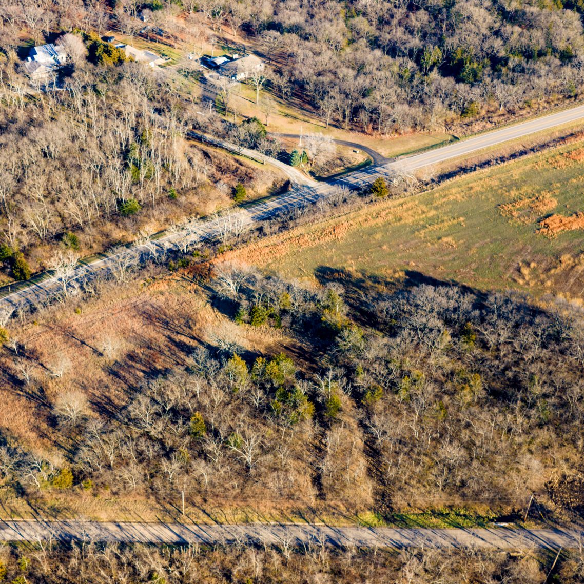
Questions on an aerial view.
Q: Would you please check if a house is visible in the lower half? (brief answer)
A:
No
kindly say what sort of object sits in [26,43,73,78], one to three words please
house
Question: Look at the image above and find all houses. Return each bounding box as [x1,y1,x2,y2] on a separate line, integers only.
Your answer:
[213,53,265,78]
[116,44,169,68]
[26,43,73,78]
